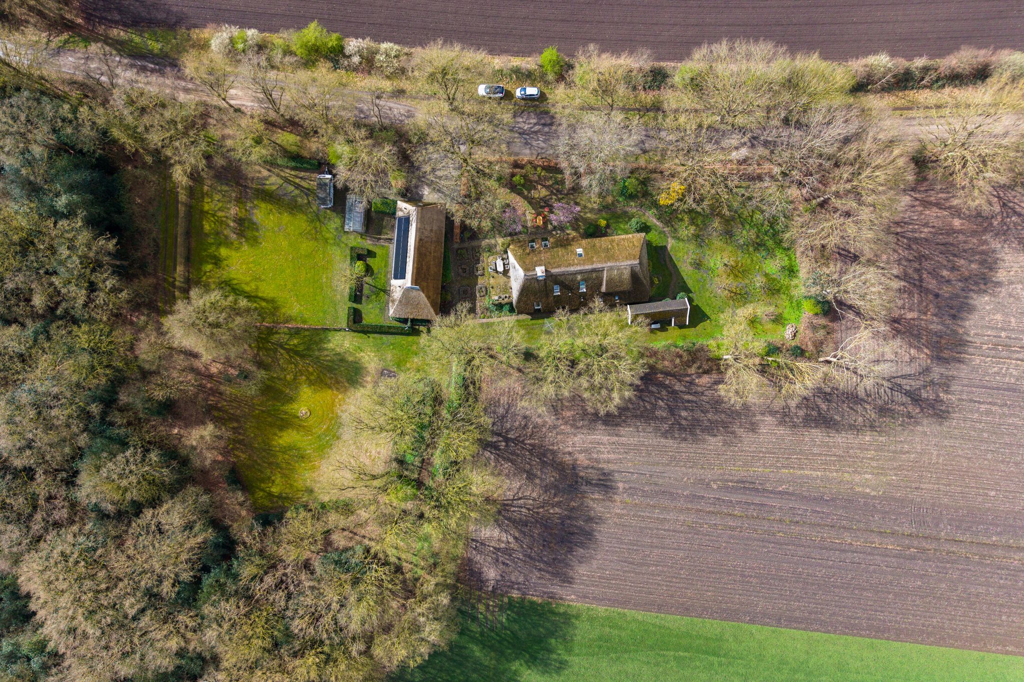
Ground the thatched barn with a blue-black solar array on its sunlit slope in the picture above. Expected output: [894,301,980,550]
[390,201,446,318]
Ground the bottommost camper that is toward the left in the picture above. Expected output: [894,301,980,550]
[317,169,334,208]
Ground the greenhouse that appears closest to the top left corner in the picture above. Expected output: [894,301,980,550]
[344,195,369,234]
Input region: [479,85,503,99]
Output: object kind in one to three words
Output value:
car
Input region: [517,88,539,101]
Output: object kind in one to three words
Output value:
vehicle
